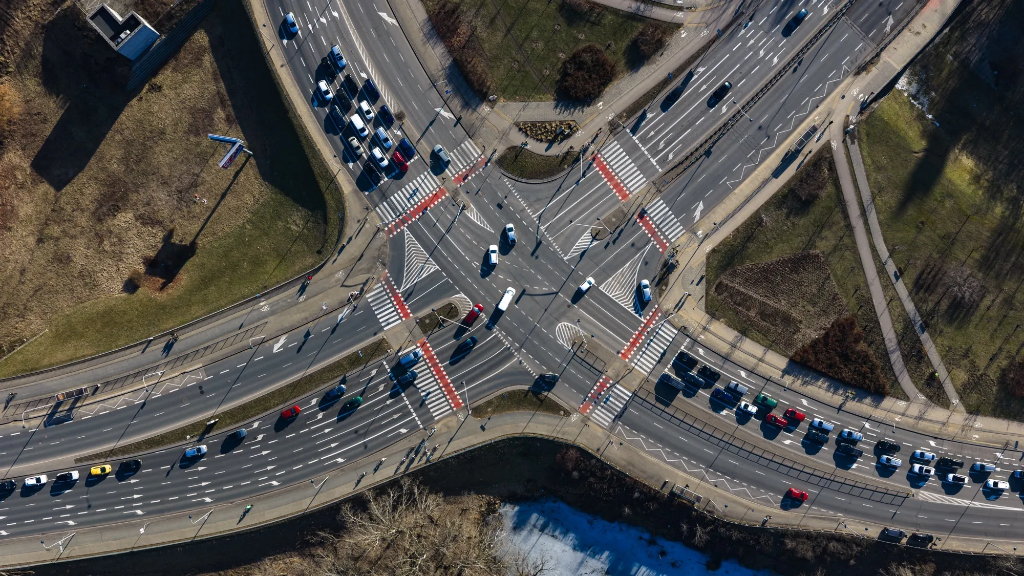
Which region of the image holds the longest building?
top left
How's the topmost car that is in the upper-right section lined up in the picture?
on a diagonal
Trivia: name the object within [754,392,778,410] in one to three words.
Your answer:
car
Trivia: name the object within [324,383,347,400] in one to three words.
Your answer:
car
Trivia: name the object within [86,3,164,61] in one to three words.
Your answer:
building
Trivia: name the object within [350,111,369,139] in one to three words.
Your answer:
vehicle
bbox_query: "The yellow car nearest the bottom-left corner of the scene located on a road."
[90,464,113,476]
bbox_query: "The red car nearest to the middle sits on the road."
[463,303,482,326]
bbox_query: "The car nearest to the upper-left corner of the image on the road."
[284,11,300,34]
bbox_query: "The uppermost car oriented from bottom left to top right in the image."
[783,8,809,35]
